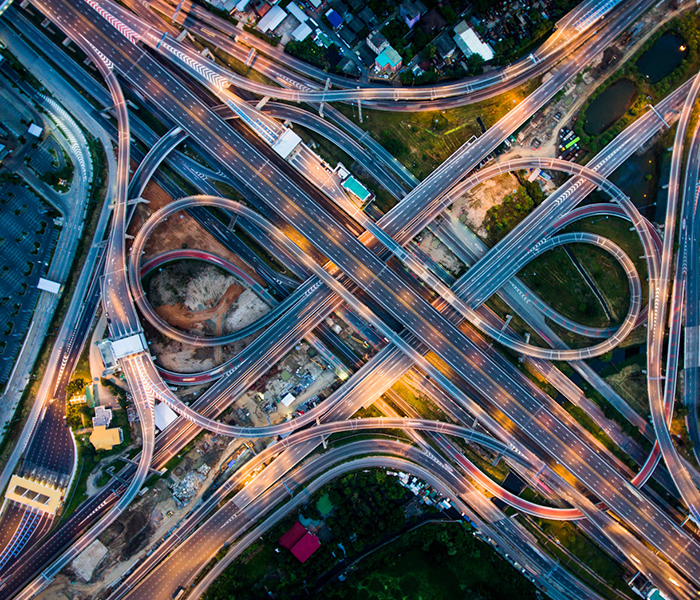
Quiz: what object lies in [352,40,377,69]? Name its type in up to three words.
house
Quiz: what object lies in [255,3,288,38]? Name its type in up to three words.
building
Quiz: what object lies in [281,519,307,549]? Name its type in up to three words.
building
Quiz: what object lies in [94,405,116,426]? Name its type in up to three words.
house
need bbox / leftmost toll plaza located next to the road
[4,469,65,513]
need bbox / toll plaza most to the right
[278,128,308,160]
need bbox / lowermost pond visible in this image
[606,146,664,233]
